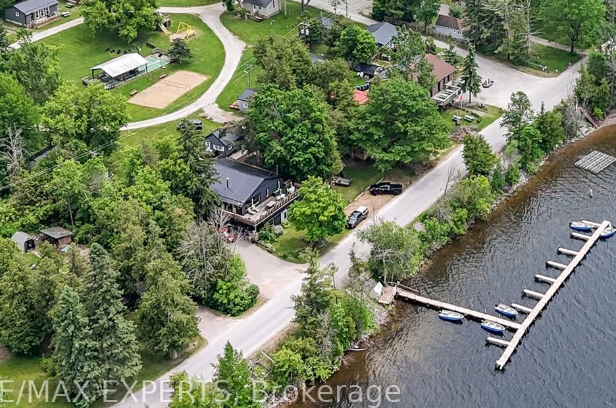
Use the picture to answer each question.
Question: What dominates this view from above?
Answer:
trees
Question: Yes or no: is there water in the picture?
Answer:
Yes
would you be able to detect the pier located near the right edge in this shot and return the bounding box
[399,218,613,373]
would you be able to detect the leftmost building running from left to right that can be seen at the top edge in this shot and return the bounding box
[4,0,62,28]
